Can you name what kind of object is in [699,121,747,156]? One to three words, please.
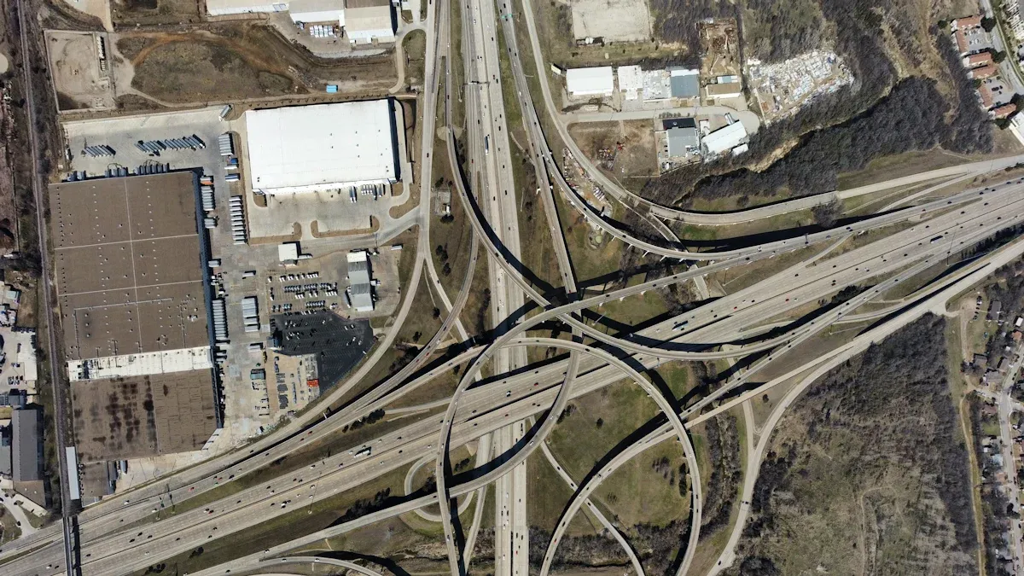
shed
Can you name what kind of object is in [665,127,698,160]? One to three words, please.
building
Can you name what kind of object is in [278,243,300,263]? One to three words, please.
building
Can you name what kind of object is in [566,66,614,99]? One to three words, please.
shed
